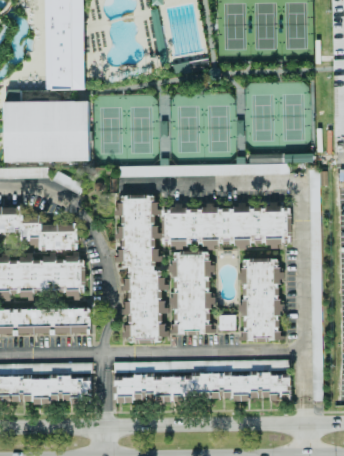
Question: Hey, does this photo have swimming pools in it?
Yes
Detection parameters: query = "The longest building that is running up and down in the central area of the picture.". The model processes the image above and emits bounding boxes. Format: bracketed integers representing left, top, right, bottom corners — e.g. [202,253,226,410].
[116,193,170,344]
